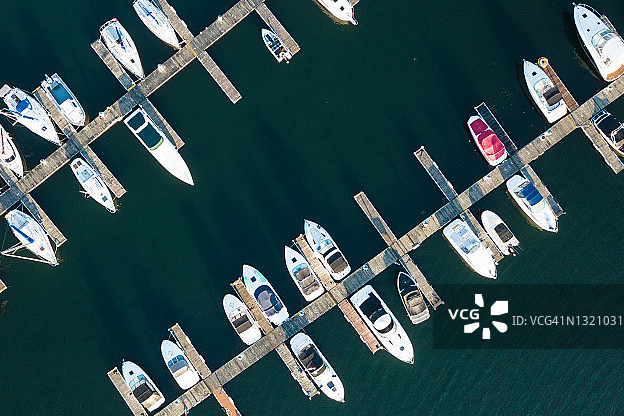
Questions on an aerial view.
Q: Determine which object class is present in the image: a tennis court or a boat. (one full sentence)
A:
This aerial view contains a boat.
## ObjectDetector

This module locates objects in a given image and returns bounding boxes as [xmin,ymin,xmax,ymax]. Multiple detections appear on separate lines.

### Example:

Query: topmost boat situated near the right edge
[569,0,624,84]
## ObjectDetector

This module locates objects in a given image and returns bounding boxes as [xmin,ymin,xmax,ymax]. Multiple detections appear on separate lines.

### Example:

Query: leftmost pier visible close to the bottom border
[108,367,150,416]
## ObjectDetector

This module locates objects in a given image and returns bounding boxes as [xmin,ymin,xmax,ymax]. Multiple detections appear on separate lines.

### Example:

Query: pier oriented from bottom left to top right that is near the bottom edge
[152,275,361,416]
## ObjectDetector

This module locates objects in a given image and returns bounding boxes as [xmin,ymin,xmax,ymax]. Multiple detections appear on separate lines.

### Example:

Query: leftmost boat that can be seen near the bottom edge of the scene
[119,361,166,415]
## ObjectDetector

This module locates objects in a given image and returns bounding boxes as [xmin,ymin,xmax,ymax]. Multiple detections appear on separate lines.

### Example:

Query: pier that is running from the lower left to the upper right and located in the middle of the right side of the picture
[352,76,624,288]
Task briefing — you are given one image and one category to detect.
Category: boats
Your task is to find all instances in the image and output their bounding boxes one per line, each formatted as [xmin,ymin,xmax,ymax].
[290,330,345,405]
[124,105,194,185]
[42,72,84,128]
[134,0,187,48]
[1,82,66,144]
[103,22,147,83]
[478,210,522,254]
[399,259,433,322]
[590,106,624,154]
[285,242,327,300]
[349,278,415,365]
[3,203,59,265]
[300,219,351,282]
[501,172,562,234]
[71,156,116,213]
[521,59,569,123]
[0,125,28,178]
[238,264,291,328]
[119,361,166,415]
[469,115,512,165]
[569,0,624,84]
[441,217,499,279]
[262,24,292,62]
[224,285,266,342]
[162,330,203,389]
[316,0,357,26]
